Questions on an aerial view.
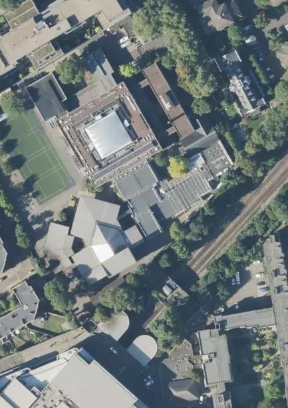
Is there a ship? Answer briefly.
No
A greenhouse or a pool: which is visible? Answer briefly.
greenhouse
